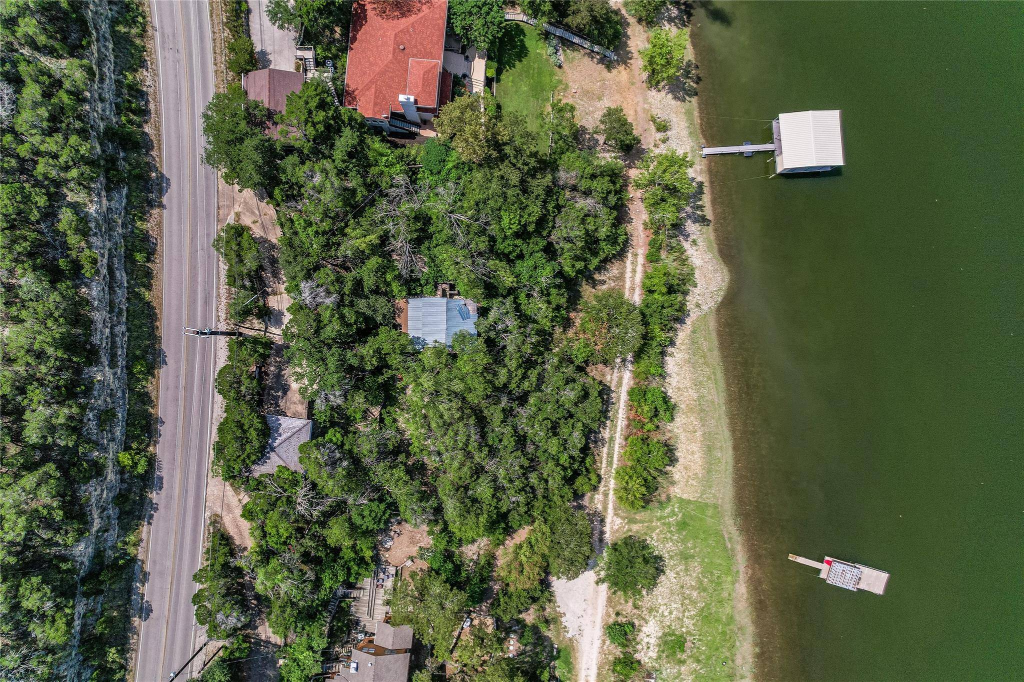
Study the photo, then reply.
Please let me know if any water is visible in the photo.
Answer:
Yes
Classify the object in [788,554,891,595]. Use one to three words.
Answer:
pier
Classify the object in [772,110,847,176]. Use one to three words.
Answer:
building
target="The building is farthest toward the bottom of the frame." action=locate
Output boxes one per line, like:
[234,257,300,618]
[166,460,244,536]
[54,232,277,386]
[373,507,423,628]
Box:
[330,612,415,682]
